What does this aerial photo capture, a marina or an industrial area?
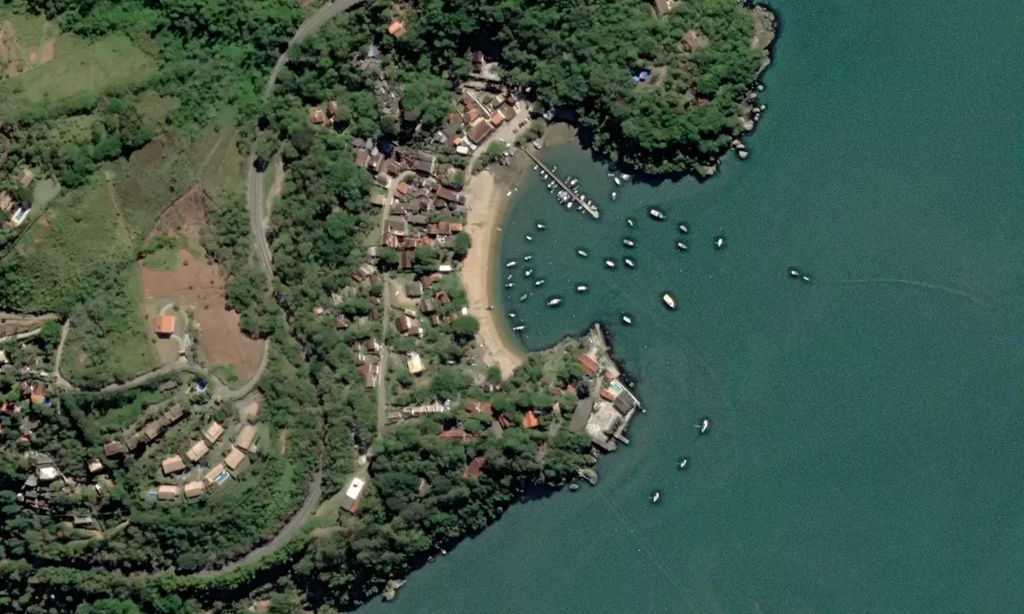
marina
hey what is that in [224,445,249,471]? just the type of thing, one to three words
house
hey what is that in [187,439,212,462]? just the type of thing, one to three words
house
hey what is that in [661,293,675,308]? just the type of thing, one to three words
boat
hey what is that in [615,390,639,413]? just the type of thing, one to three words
building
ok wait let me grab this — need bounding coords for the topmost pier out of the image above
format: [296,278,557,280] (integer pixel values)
[521,147,597,217]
